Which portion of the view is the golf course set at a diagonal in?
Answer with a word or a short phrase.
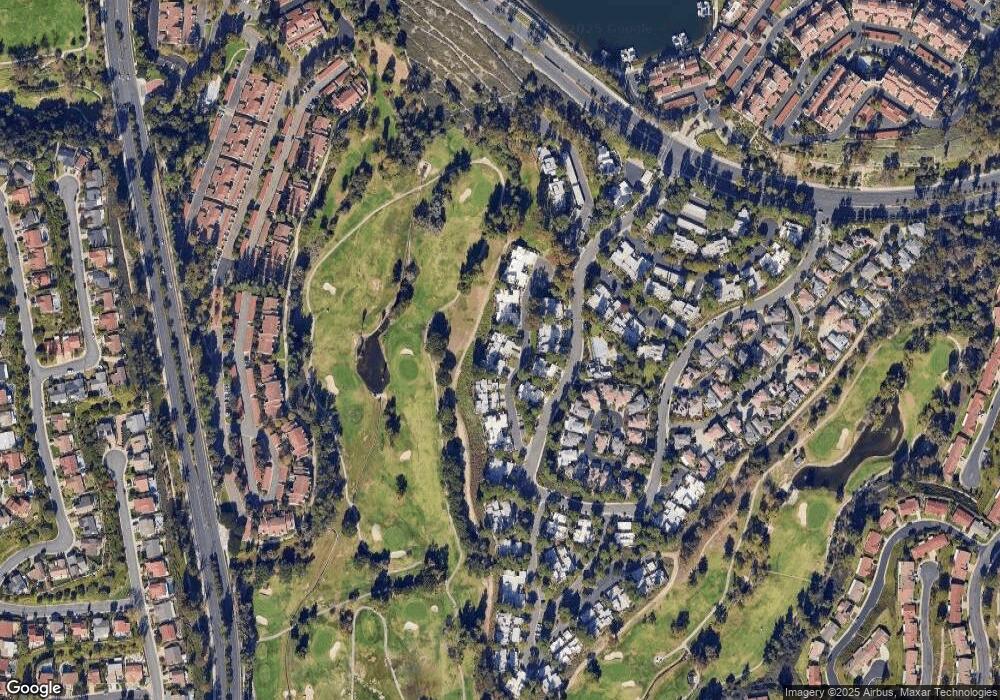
bottom right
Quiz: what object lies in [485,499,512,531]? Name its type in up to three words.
building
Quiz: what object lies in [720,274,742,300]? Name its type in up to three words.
building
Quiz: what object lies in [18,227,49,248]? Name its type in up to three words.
house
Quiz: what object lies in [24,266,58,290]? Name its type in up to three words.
house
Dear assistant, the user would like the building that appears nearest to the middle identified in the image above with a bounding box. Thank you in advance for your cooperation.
[480,329,520,374]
